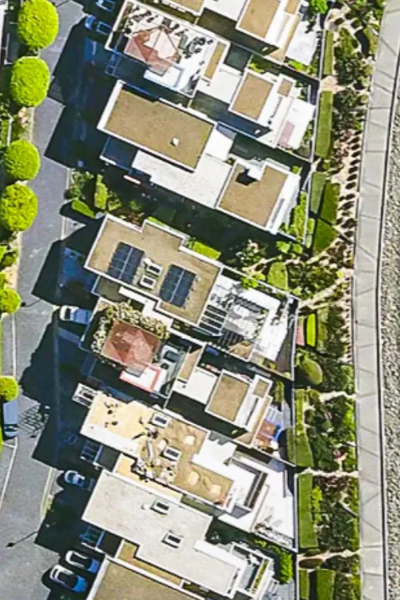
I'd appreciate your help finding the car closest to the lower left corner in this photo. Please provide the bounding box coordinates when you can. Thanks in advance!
[52,568,85,588]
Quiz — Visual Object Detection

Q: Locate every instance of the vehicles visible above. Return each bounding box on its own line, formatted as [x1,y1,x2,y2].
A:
[66,551,100,571]
[58,305,93,323]
[52,568,85,588]
[57,468,92,488]
[87,0,121,14]
[78,32,101,66]
[81,15,115,35]
[2,400,19,437]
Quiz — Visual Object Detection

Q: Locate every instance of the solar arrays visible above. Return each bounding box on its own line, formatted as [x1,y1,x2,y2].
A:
[108,242,144,284]
[158,263,196,308]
